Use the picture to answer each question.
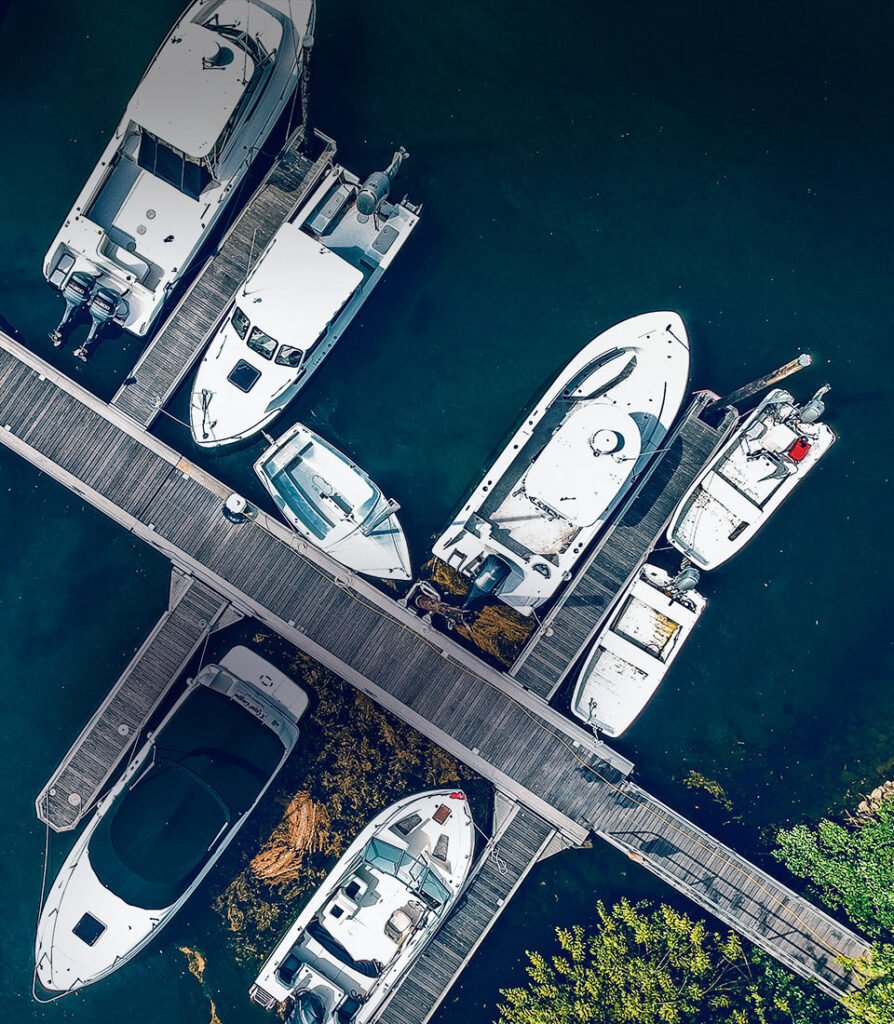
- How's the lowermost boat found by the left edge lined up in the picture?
diagonally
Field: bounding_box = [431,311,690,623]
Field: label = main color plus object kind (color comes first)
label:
white boat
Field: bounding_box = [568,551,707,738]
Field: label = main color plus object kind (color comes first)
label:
white boat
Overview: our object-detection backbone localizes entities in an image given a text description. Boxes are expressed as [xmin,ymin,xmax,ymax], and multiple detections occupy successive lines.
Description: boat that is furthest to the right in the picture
[663,381,838,571]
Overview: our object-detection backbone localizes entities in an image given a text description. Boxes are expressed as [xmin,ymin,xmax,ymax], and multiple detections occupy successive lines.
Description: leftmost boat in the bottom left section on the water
[32,645,308,1004]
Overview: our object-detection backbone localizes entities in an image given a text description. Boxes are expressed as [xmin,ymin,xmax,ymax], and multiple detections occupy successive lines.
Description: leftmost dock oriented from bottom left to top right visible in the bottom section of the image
[37,562,249,829]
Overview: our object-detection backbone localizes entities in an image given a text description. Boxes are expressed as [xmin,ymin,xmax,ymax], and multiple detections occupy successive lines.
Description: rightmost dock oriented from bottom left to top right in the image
[508,387,746,702]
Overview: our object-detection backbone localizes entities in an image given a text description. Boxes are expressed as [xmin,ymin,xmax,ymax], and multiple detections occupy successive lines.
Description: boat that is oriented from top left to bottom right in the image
[253,422,412,581]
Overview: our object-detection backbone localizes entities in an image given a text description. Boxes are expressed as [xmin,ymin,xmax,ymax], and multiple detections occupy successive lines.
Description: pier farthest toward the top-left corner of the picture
[110,122,341,431]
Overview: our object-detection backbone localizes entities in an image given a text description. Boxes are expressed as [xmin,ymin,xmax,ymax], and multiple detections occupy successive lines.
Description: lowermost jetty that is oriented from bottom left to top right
[374,785,577,1024]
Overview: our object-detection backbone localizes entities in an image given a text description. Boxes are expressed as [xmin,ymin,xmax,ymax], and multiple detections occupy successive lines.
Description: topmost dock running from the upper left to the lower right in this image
[0,331,635,833]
